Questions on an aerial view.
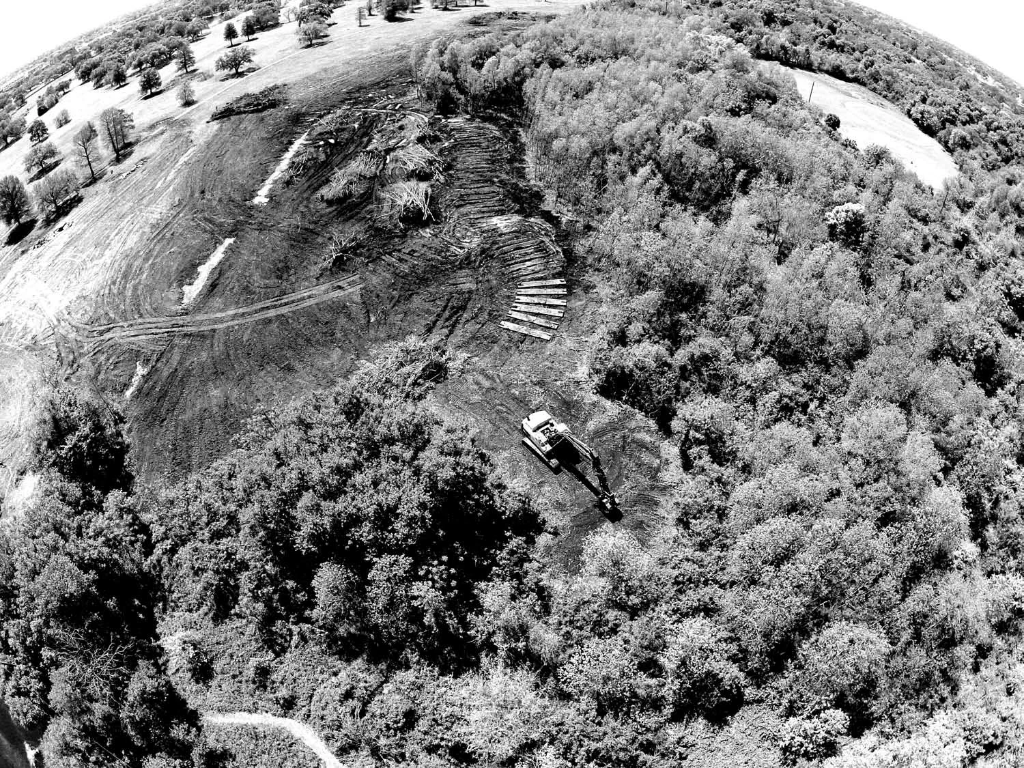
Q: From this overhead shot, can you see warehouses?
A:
No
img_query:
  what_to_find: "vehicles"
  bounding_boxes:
[520,414,615,516]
